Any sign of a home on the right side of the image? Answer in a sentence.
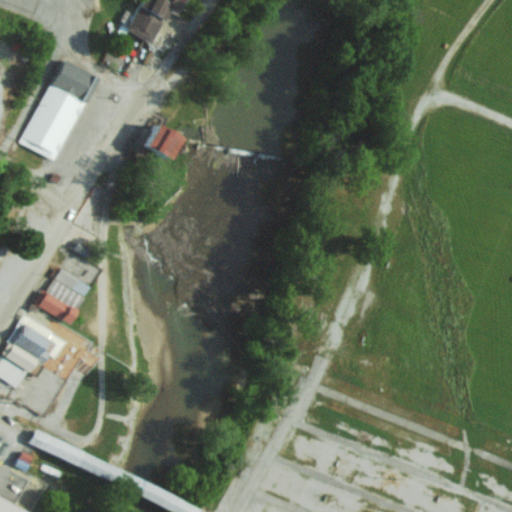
No, there's no home to be seen on the right side of the image.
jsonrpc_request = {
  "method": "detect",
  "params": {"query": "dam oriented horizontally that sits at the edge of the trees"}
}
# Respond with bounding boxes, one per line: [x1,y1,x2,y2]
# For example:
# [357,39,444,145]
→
[202,147,294,163]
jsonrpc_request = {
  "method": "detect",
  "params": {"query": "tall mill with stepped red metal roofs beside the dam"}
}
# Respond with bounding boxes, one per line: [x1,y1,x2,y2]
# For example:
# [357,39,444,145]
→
[144,124,186,163]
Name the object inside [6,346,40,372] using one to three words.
building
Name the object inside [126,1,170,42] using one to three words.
house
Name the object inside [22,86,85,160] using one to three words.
building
